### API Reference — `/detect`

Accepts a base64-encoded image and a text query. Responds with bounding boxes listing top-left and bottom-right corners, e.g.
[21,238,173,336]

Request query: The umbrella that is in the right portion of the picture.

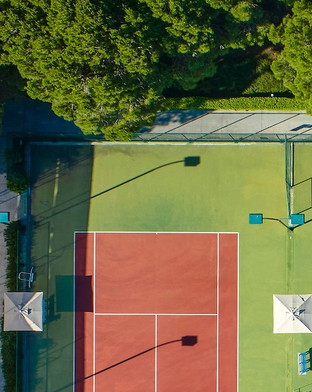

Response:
[275,295,312,333]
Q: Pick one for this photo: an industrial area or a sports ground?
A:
sports ground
